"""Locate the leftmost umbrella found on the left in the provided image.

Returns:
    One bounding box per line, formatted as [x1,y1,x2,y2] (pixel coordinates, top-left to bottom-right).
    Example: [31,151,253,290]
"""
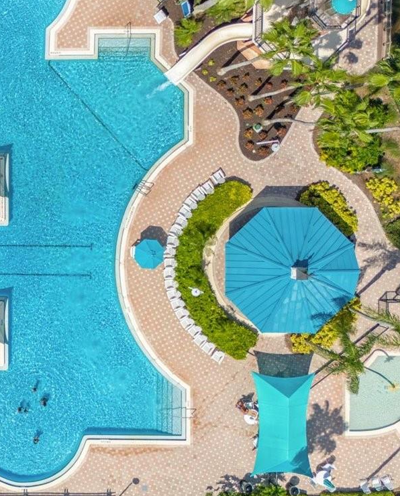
[134,239,163,269]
